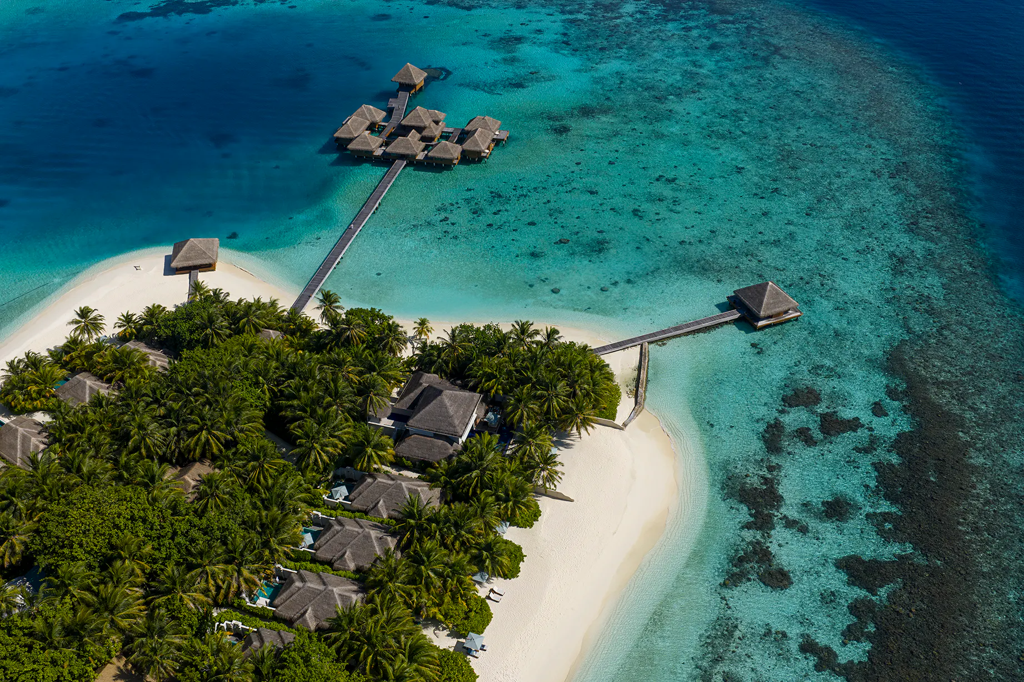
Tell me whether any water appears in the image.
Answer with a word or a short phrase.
Yes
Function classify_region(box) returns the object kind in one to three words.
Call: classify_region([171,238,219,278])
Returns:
building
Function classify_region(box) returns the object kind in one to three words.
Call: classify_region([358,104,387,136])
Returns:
house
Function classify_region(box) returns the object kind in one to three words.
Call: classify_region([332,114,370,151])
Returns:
house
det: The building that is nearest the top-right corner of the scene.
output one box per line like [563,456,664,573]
[725,280,804,337]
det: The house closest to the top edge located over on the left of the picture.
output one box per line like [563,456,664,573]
[389,63,428,102]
